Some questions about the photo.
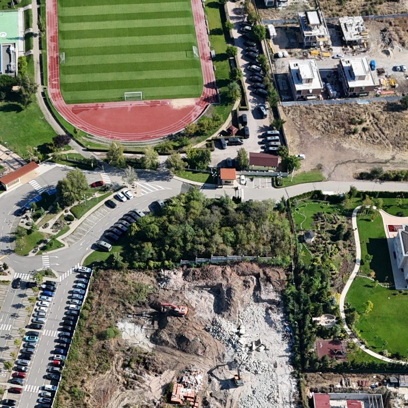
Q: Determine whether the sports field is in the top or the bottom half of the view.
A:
top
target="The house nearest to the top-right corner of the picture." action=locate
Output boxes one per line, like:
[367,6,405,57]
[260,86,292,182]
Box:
[337,16,368,52]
